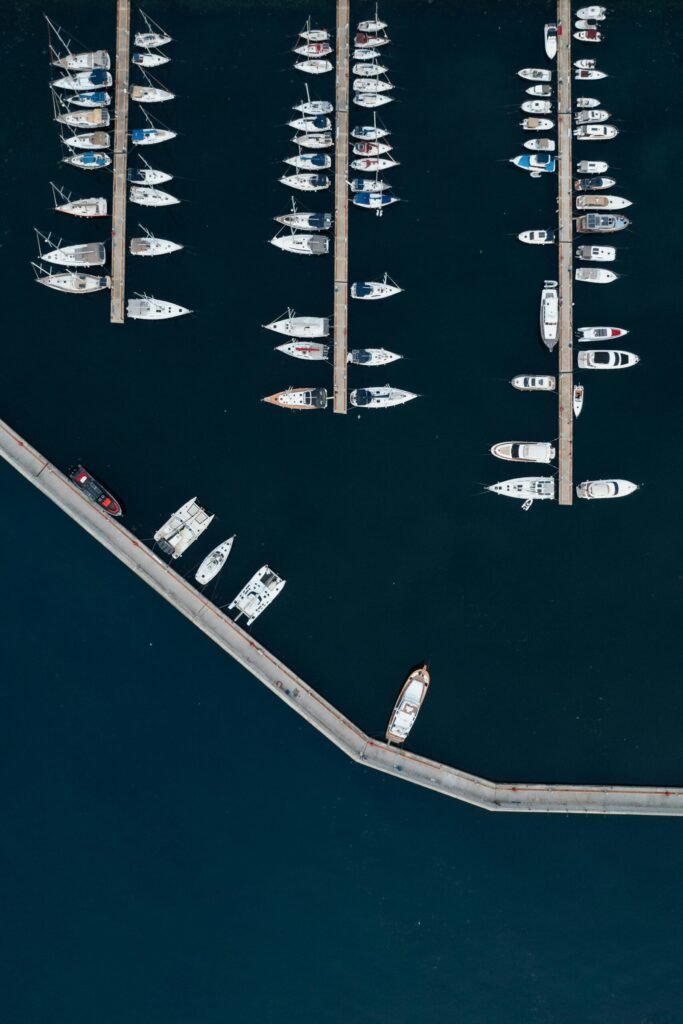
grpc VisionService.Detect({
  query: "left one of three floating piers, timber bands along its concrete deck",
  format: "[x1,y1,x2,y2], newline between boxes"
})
[111,0,131,324]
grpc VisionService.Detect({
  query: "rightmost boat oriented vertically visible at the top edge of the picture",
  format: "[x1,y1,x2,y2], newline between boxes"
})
[543,25,558,60]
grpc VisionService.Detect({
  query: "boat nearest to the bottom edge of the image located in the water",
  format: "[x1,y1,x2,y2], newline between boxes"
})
[384,655,429,753]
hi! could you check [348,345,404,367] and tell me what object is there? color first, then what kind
white boat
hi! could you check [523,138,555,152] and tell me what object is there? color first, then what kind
white boat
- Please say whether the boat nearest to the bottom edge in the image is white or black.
white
